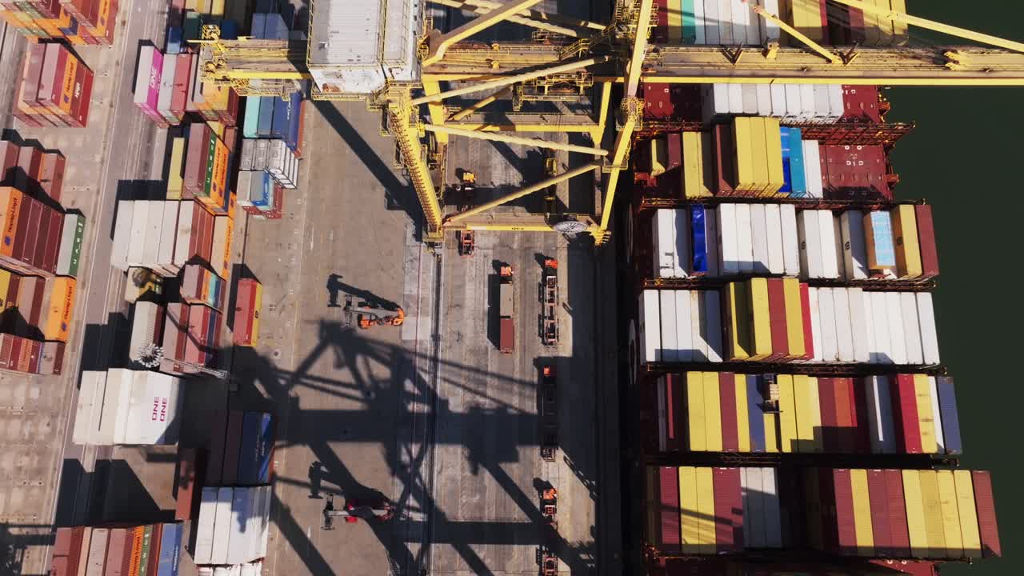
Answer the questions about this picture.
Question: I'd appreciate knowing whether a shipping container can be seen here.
Yes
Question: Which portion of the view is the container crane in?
top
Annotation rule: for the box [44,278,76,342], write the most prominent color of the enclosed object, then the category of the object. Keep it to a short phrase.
orange shipping container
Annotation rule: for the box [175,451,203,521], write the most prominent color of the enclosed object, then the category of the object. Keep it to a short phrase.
red shipping container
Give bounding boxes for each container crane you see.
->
[174,0,1024,263]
